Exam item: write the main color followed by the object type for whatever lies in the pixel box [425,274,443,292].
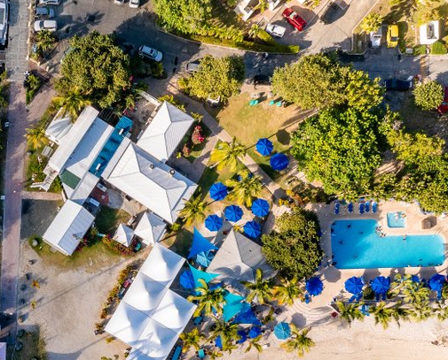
blue umbrella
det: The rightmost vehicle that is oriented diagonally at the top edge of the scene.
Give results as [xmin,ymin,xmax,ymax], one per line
[316,1,339,27]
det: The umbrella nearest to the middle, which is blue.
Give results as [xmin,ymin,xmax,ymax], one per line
[208,184,226,201]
